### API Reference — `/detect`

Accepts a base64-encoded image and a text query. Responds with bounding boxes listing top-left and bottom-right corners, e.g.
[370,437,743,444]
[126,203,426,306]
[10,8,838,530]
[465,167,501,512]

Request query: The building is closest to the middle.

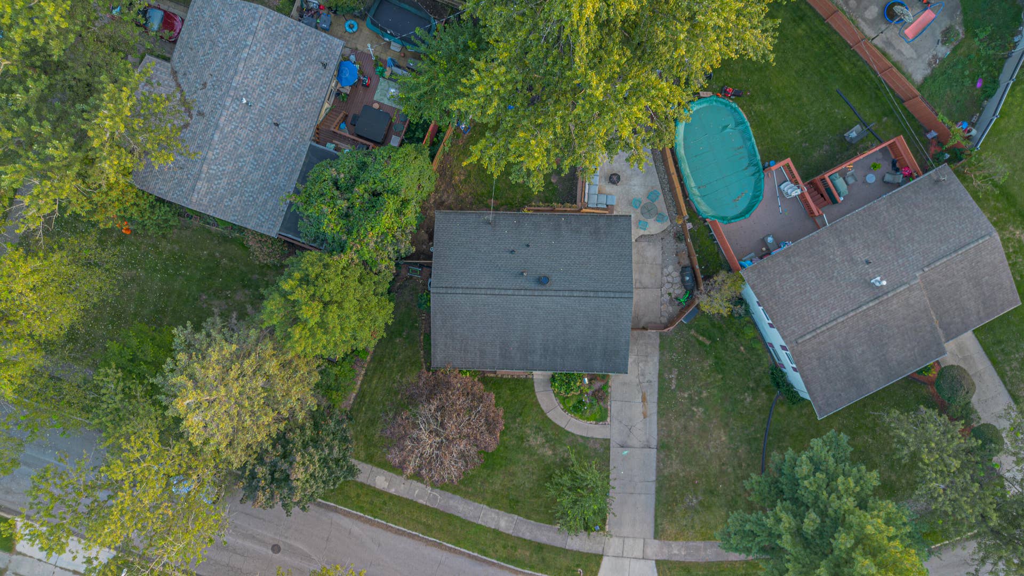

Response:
[430,210,634,376]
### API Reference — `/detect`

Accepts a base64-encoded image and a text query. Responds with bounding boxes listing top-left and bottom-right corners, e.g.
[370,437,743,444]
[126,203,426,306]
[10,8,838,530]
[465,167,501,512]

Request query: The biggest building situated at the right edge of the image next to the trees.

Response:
[729,162,1021,421]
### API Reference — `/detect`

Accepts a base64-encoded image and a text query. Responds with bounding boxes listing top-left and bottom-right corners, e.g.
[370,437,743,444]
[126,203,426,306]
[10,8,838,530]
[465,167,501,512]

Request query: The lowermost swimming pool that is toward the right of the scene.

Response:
[672,94,763,226]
